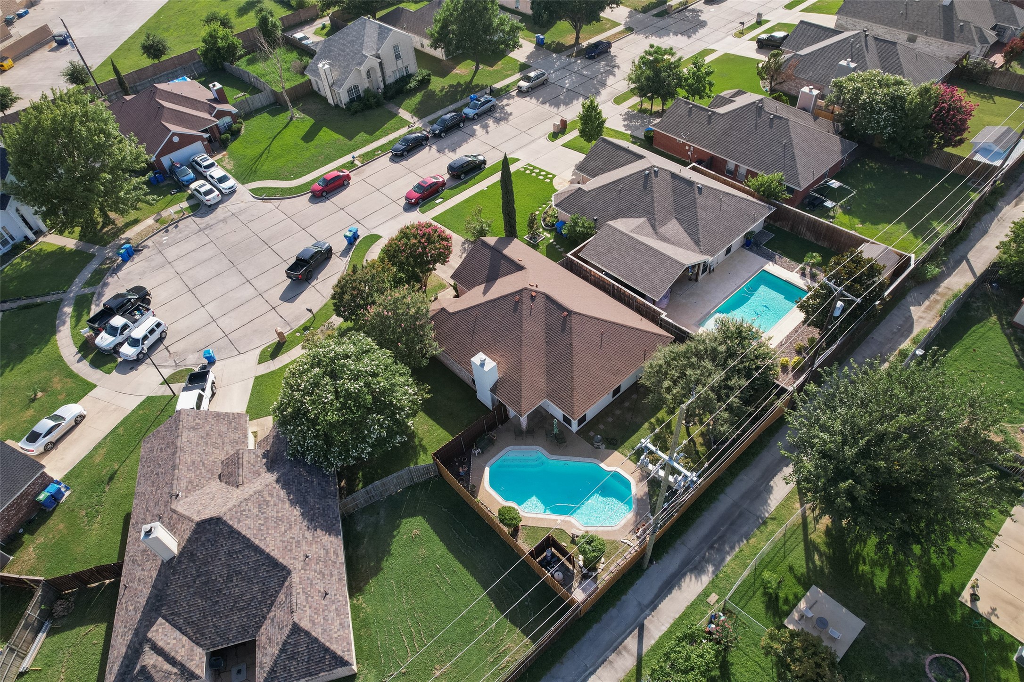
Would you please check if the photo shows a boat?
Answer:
No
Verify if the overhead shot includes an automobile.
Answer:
Yes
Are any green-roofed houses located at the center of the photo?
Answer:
No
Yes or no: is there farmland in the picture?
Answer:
No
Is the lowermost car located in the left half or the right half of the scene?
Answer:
left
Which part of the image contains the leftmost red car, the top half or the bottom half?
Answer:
top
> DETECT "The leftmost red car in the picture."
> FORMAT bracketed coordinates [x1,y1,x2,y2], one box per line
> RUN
[308,168,353,197]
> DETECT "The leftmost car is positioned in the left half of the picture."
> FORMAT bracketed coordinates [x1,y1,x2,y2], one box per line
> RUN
[15,401,89,459]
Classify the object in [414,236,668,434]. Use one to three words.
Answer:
house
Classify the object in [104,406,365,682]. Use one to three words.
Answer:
house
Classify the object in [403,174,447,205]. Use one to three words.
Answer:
car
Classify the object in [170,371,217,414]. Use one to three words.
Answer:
truck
